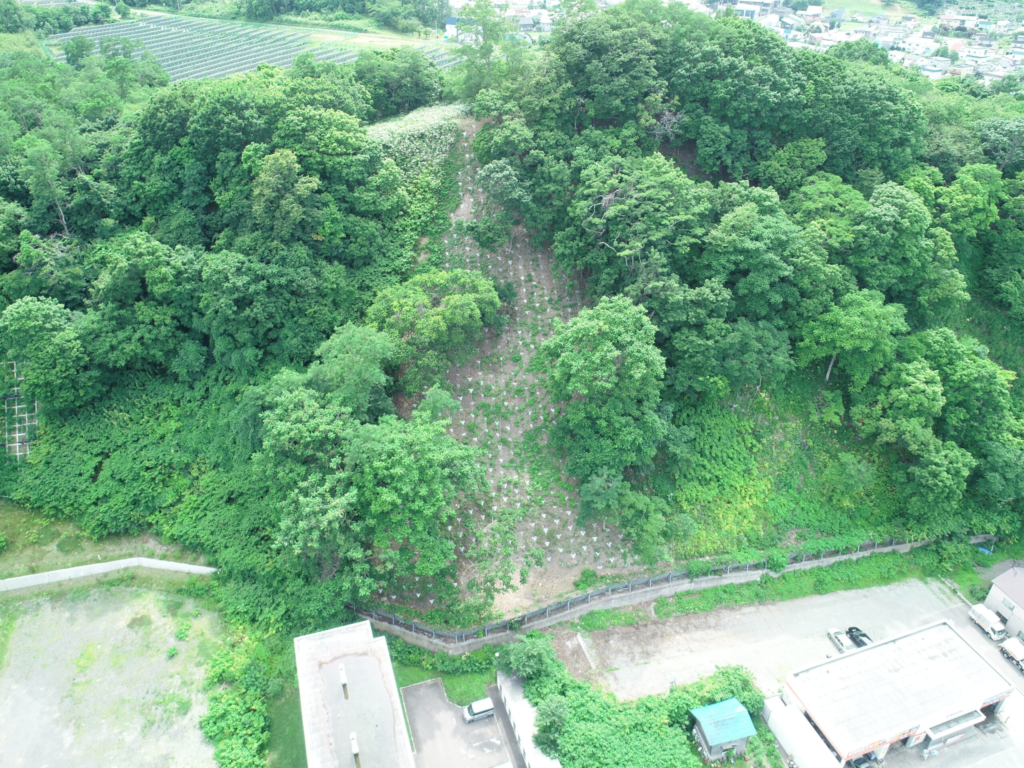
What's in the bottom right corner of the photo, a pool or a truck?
truck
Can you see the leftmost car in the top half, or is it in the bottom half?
bottom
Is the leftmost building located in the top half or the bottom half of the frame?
bottom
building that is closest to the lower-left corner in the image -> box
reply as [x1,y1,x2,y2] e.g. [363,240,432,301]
[294,622,417,768]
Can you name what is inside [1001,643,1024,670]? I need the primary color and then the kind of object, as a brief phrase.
white truck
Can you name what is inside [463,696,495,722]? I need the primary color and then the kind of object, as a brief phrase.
white car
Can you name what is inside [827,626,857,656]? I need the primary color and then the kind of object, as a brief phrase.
white car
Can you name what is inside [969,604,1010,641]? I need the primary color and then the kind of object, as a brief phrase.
white truck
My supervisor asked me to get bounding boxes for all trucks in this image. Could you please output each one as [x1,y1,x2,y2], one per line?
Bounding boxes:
[1001,643,1024,670]
[969,604,1010,641]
